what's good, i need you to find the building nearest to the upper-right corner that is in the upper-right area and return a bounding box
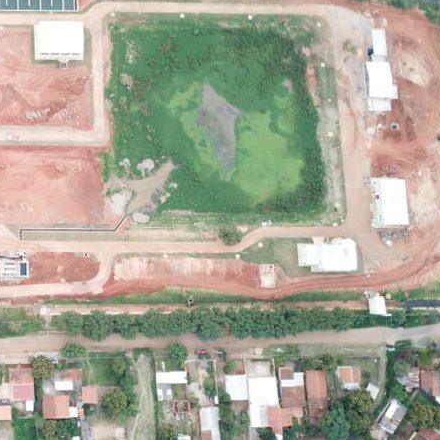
[367,28,388,57]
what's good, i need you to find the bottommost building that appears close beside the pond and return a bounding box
[294,235,360,272]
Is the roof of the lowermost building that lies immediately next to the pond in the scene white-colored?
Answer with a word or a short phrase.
Yes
